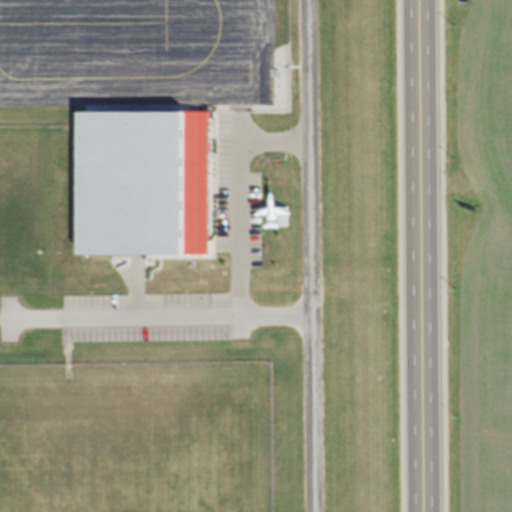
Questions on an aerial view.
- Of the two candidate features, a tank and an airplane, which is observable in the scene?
airplane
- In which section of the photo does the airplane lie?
center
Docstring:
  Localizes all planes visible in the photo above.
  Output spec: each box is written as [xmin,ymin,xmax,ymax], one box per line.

[252,191,290,232]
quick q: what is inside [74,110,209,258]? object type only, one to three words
hangar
